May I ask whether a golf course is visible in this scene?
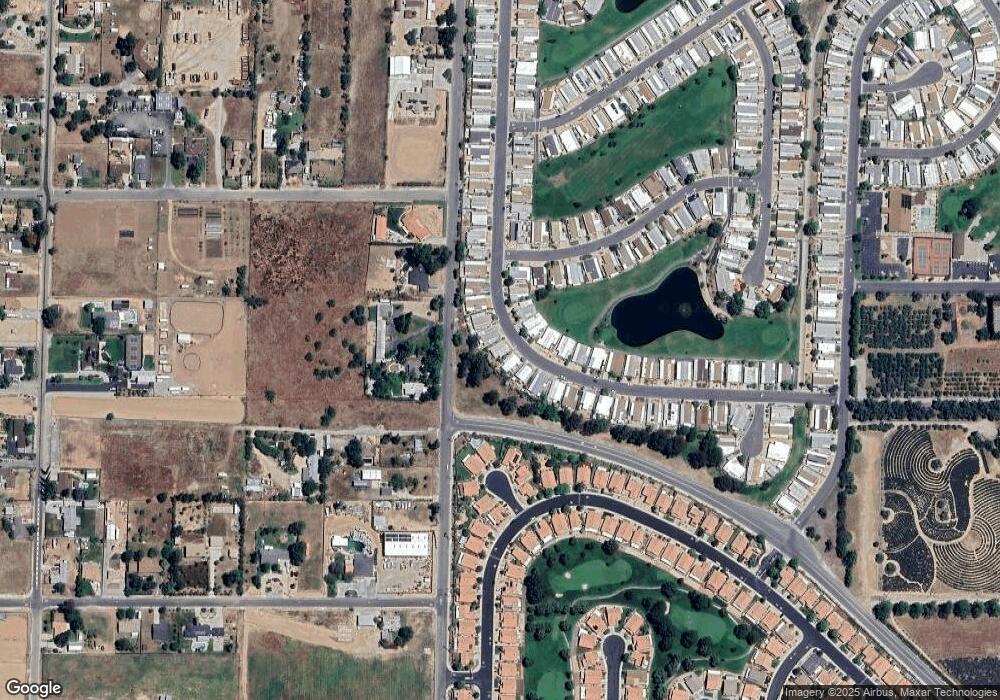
Yes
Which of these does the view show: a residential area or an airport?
residential area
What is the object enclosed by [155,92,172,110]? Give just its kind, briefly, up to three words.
building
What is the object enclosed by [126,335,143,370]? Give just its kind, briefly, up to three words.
barn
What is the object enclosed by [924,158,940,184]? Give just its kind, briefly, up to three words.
house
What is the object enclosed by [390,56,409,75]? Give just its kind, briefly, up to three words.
barn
